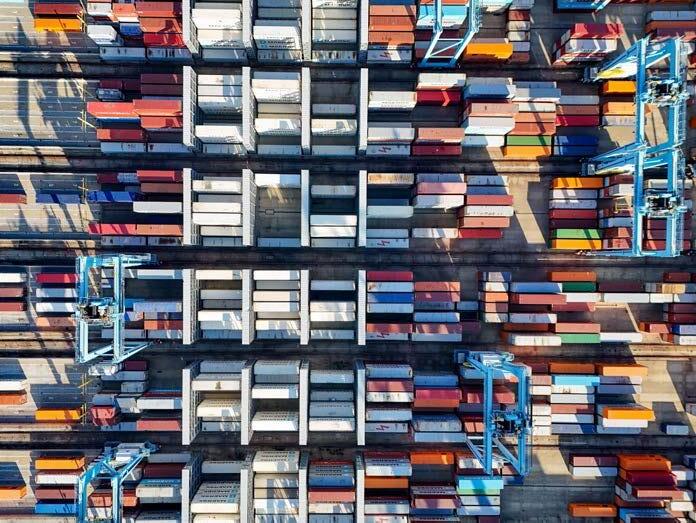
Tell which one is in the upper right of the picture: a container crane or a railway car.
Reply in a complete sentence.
Visible in the upper right of the picture is a container crane.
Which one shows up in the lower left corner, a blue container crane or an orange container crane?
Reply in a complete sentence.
The feature located in the lower left corner is a blue container crane.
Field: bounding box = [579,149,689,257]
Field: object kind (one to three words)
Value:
container crane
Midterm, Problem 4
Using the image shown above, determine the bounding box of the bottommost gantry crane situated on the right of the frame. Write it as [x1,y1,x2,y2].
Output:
[456,347,536,473]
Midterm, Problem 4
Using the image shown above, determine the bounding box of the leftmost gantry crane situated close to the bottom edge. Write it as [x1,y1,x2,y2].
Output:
[71,439,160,523]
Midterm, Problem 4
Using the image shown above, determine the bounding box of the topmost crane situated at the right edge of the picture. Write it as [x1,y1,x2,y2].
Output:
[580,38,689,165]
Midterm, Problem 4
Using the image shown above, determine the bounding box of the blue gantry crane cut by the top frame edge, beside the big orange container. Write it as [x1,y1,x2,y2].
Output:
[412,0,485,71]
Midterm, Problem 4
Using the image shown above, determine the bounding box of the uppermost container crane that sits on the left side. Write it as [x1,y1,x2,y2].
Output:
[72,250,163,362]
